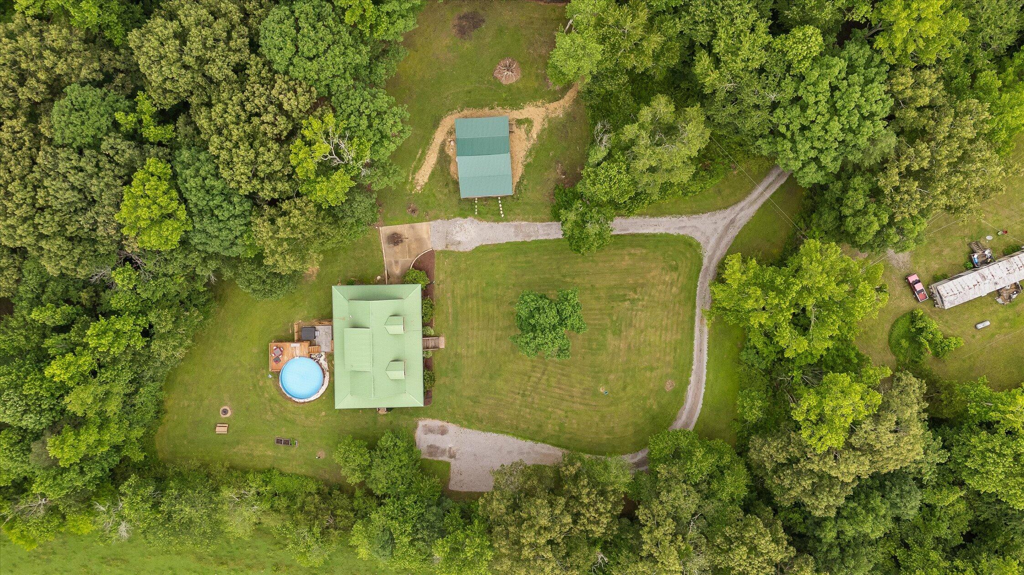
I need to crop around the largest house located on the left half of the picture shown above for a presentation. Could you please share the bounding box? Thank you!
[332,284,424,409]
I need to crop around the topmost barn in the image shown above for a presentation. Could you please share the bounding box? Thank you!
[456,116,513,199]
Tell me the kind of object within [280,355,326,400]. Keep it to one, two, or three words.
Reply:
swimming pool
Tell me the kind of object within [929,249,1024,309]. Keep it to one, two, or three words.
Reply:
house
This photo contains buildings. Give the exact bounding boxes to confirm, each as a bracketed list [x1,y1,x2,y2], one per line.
[456,116,513,199]
[929,249,1024,309]
[332,284,424,409]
